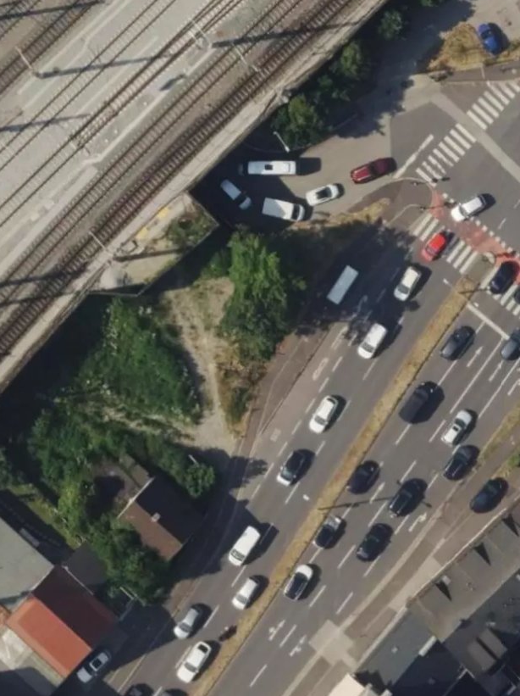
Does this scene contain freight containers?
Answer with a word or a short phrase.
No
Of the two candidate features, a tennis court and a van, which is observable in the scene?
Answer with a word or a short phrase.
van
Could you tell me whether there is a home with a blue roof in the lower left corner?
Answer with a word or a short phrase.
No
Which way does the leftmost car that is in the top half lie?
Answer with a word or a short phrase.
at an angle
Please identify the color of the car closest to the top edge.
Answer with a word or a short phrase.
blue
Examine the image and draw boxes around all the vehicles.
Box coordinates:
[312,512,345,551]
[282,563,315,602]
[440,323,472,362]
[309,394,341,434]
[240,156,298,180]
[442,443,476,483]
[258,195,308,224]
[304,183,342,206]
[228,524,262,566]
[477,21,503,57]
[400,382,435,422]
[177,641,211,680]
[396,265,424,301]
[280,449,310,485]
[472,474,506,513]
[77,646,112,685]
[172,602,205,642]
[500,326,520,363]
[390,478,423,517]
[156,687,176,696]
[231,575,261,610]
[421,228,450,264]
[356,321,391,361]
[441,407,473,448]
[348,459,378,494]
[353,160,393,183]
[358,522,391,562]
[217,176,254,214]
[488,259,518,295]
[450,192,490,222]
